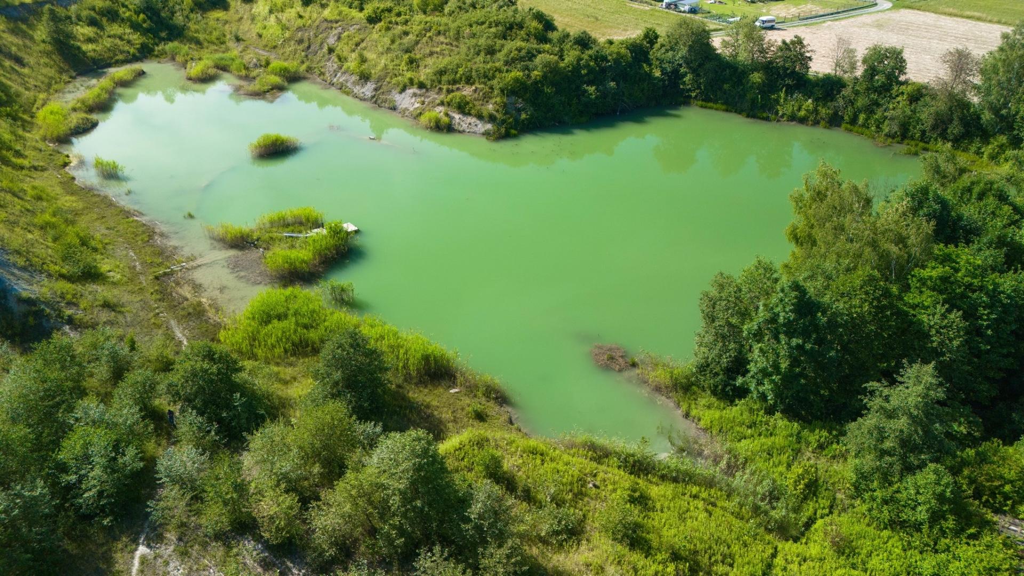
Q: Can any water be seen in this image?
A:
Yes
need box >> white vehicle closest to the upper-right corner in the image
[756,15,780,29]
